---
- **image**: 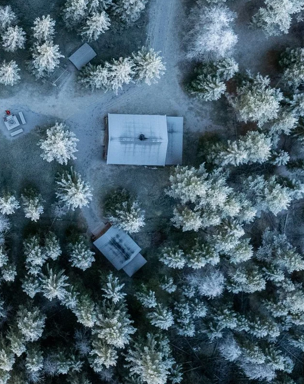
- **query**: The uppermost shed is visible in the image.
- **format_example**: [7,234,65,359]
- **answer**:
[68,42,97,70]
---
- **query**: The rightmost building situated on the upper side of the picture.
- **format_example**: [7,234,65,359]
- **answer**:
[97,114,182,166]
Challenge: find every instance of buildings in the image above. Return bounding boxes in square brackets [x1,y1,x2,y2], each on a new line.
[97,114,182,166]
[87,217,142,271]
[68,42,97,70]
